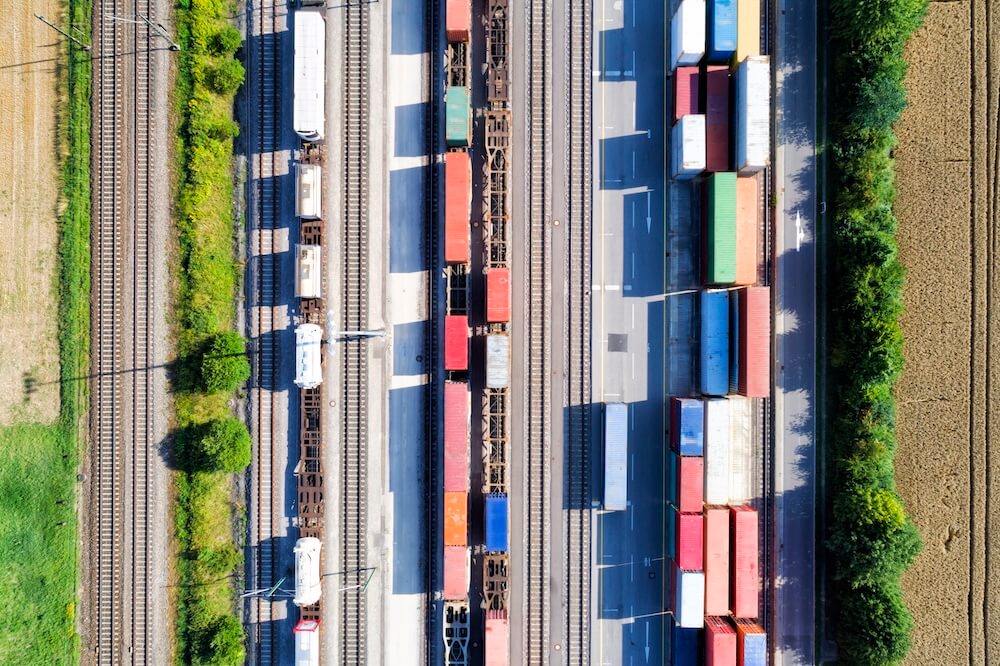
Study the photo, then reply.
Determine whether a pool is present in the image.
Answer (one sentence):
No, I can't see a single pool in this photo.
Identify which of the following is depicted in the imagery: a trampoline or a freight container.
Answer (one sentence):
The one in the frame is a freight container.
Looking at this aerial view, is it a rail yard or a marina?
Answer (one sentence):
This looks like a rail yard.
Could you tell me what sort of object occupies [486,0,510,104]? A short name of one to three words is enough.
rail car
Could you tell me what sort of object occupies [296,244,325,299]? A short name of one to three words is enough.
shipping container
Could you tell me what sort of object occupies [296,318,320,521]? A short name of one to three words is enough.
rail car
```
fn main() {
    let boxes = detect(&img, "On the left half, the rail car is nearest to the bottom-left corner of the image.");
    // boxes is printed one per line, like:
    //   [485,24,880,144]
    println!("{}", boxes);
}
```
[295,522,320,625]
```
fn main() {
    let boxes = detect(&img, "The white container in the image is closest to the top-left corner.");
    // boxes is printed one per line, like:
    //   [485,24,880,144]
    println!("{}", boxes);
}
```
[296,165,325,222]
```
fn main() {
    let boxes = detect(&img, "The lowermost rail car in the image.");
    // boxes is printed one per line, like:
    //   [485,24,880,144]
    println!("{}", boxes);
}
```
[444,604,469,666]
